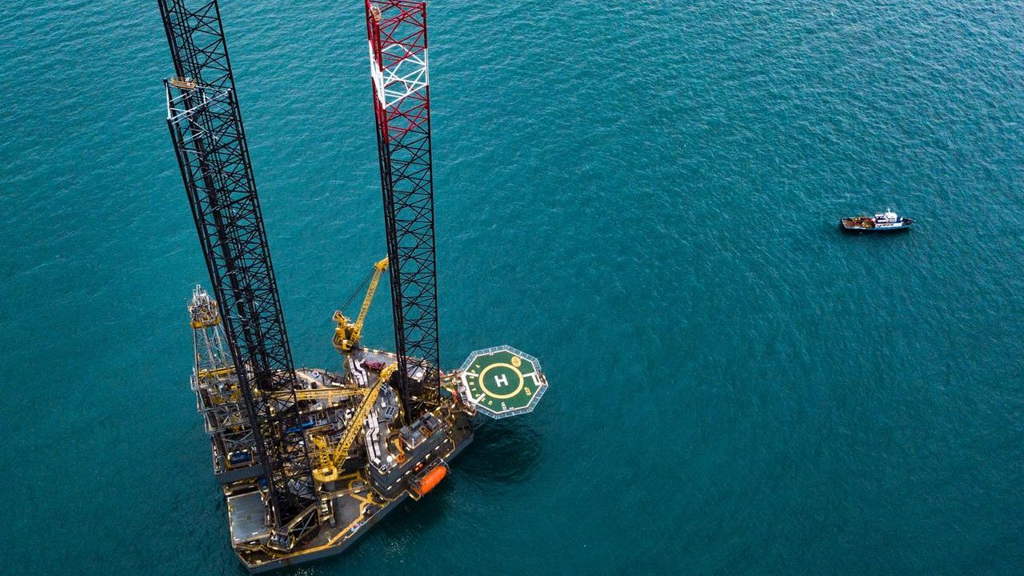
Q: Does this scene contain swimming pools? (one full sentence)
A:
No, the frame has no swimming pool in it.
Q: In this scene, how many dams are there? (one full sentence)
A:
I count no dams.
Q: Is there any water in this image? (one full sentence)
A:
Yes, the picture does contain water.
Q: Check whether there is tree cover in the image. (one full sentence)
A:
No, the scene doesn't show any tree cover.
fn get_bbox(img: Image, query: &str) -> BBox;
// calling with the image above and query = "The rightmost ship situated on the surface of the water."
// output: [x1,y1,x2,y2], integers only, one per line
[841,205,915,231]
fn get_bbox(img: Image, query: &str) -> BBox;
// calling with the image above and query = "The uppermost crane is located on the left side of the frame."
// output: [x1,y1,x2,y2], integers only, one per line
[330,260,387,374]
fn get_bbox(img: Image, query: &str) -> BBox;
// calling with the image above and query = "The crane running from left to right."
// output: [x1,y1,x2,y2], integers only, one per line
[256,386,366,435]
